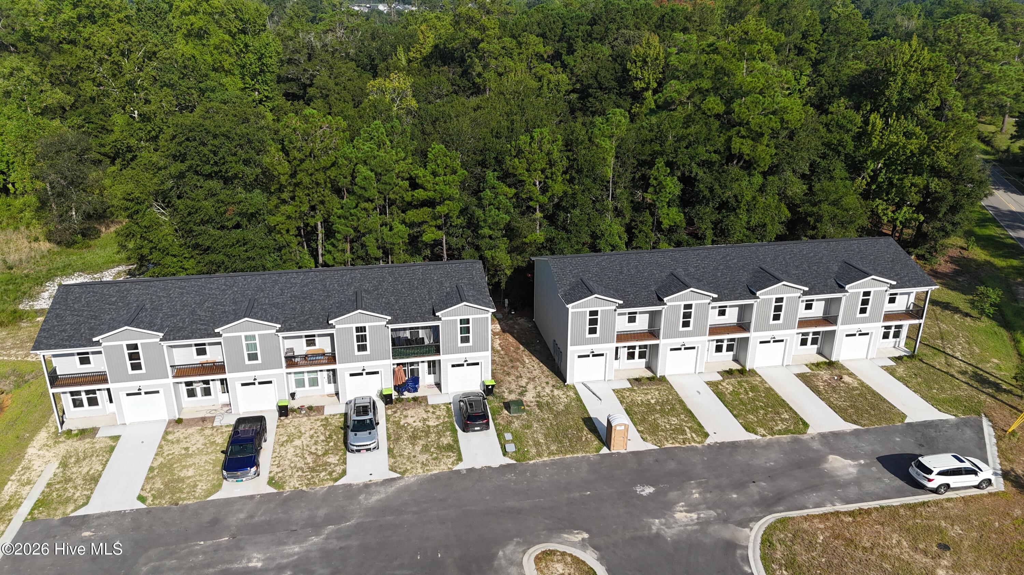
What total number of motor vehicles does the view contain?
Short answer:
four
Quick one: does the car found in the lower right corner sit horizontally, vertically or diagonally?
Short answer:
horizontally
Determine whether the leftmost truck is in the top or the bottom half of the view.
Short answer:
bottom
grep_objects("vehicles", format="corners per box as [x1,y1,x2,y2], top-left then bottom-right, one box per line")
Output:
[908,453,997,494]
[222,416,267,484]
[346,400,381,454]
[458,393,489,433]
